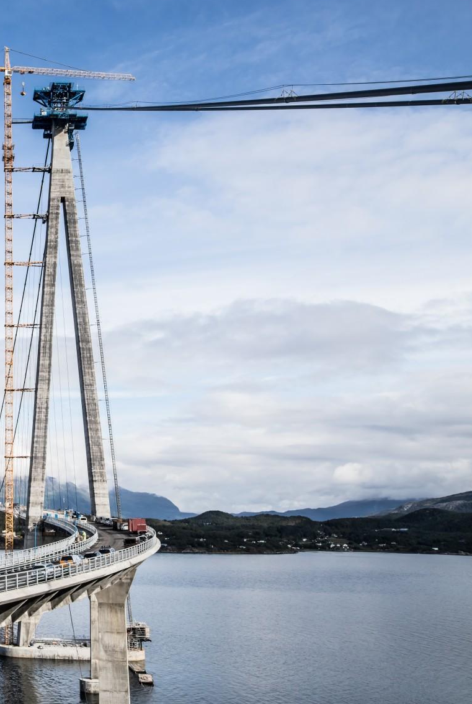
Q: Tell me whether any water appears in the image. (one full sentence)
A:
Yes, there's water in this view.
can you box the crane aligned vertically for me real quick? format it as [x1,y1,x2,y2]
[0,51,138,645]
